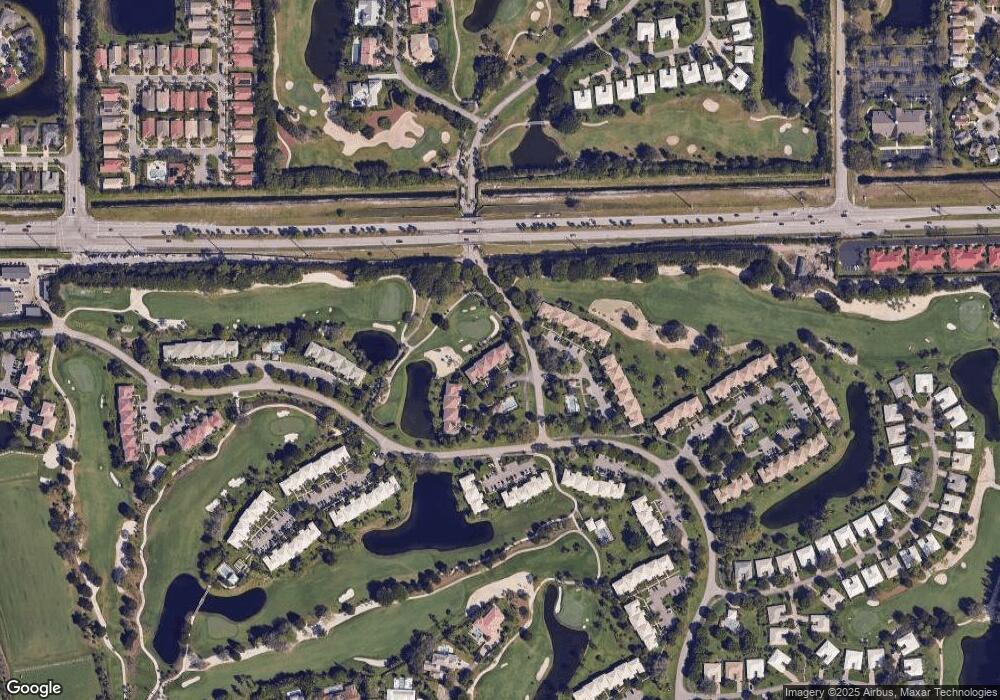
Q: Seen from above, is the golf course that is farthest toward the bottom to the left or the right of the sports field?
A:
to the right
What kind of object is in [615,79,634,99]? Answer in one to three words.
house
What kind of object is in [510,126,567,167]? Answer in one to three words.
pond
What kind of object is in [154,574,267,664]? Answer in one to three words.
pond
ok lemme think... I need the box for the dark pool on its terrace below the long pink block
[149,451,181,477]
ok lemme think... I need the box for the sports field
[0,454,101,700]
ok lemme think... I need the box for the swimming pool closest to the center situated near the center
[494,395,518,417]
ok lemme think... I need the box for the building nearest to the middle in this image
[465,342,512,386]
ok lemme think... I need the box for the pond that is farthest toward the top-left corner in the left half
[108,0,176,34]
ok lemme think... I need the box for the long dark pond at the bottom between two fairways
[532,584,589,700]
